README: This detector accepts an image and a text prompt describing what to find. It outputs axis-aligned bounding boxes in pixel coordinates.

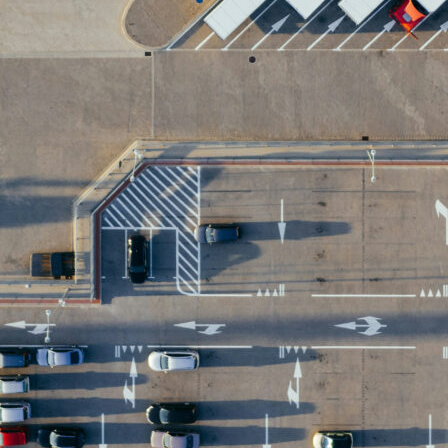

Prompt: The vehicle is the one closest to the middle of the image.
[194,222,240,245]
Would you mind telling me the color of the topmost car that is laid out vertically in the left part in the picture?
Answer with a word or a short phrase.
black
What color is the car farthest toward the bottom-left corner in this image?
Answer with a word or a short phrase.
red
